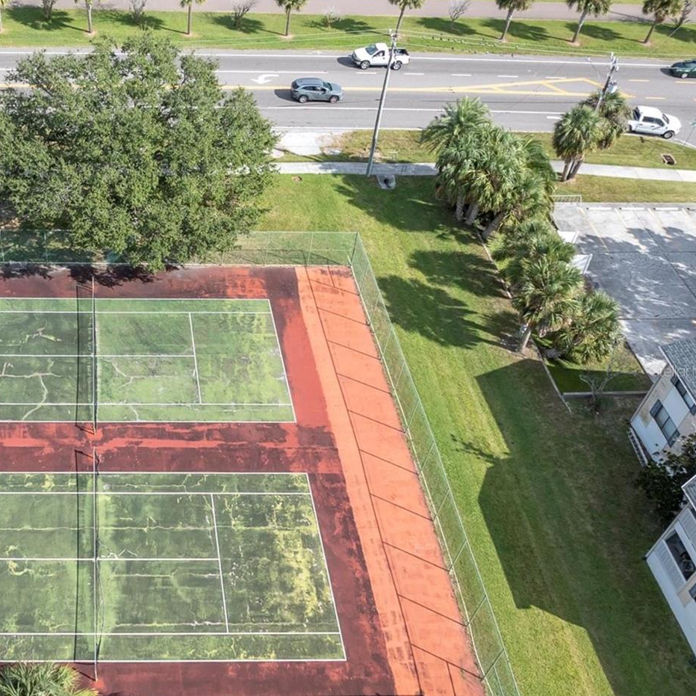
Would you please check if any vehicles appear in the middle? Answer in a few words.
No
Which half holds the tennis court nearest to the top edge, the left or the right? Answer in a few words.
left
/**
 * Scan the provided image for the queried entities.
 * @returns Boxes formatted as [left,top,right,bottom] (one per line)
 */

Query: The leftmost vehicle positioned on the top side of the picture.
[291,76,347,103]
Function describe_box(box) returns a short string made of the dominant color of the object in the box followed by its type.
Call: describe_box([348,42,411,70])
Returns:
white truck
